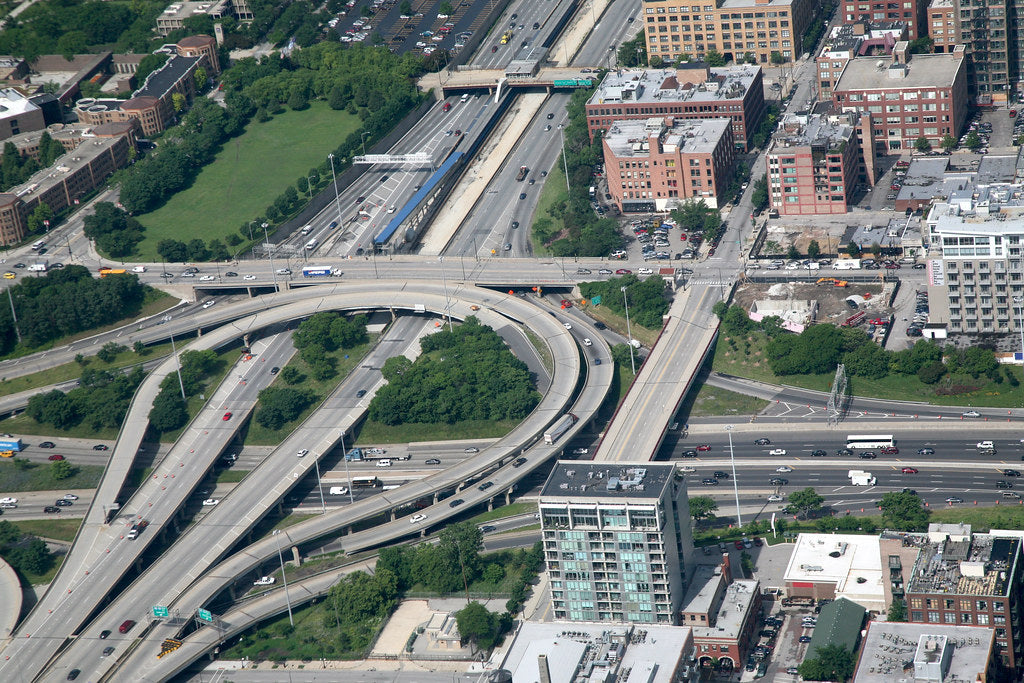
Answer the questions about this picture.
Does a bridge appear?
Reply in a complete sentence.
Yes, I can see a bridge in this picture.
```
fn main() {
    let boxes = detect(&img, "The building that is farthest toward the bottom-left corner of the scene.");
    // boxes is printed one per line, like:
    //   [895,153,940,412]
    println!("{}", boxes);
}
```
[427,613,474,655]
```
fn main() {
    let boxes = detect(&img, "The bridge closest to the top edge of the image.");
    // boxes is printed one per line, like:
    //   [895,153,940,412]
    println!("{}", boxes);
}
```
[430,64,614,96]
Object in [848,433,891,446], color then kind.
white vehicle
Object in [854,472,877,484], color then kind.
white vehicle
